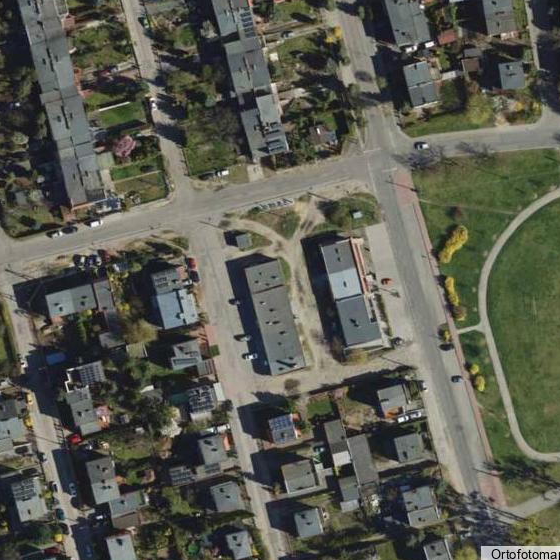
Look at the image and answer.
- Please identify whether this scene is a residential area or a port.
residential area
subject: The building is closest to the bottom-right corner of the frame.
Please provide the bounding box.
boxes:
[423,539,453,560]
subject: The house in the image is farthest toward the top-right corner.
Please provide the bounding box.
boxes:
[482,0,519,41]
